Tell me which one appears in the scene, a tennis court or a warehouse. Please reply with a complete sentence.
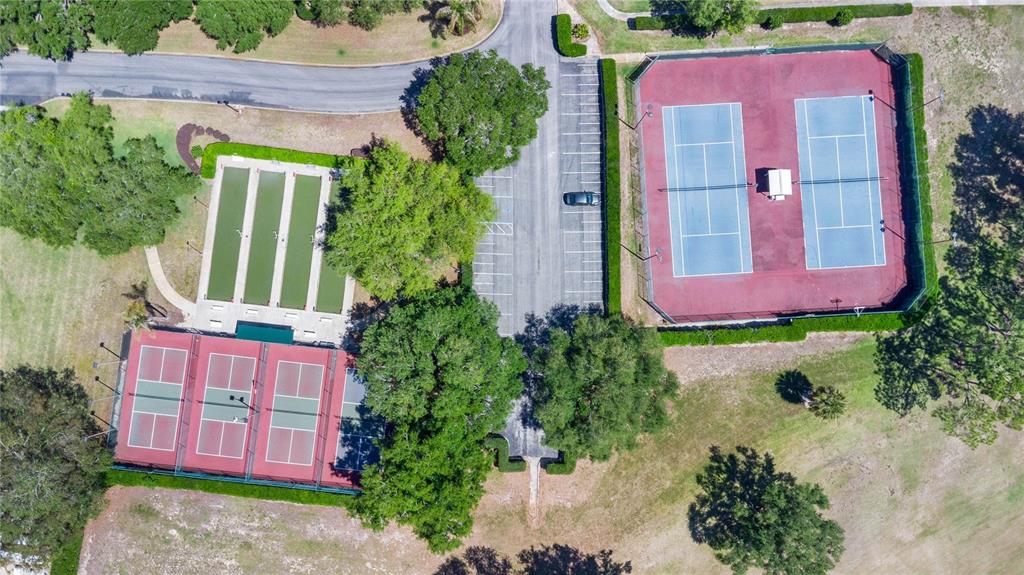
I can see a tennis court in this picture.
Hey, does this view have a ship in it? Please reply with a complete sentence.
No, no ship can be seen from above.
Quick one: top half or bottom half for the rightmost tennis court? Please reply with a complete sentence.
Seen from above, the rightmost tennis court lies in the top half of the view.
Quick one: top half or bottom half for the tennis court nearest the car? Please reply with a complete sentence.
You can find the tennis court nearest the car in the top half.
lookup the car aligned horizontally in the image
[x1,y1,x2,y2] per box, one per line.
[564,190,600,206]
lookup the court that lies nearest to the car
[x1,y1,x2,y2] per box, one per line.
[662,102,752,277]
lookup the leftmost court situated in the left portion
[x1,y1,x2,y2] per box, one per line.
[127,345,187,451]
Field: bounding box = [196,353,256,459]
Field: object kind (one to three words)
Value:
sports court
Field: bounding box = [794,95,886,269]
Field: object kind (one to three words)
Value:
tennis court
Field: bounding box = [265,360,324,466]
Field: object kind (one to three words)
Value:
sports court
